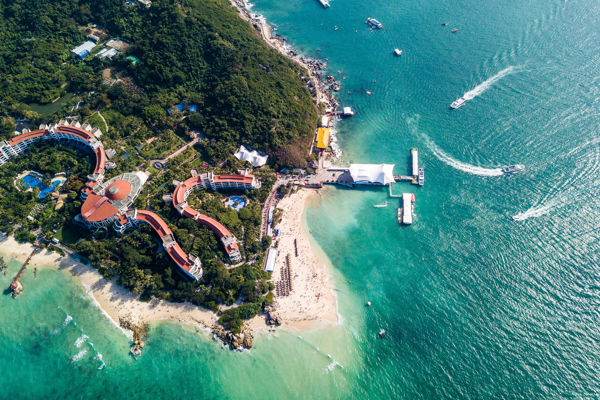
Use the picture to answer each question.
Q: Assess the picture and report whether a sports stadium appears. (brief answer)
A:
No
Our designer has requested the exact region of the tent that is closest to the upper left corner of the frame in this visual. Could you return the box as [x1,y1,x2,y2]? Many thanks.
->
[236,146,270,167]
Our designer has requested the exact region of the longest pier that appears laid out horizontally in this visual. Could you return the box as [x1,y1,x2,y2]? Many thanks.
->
[322,163,394,189]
